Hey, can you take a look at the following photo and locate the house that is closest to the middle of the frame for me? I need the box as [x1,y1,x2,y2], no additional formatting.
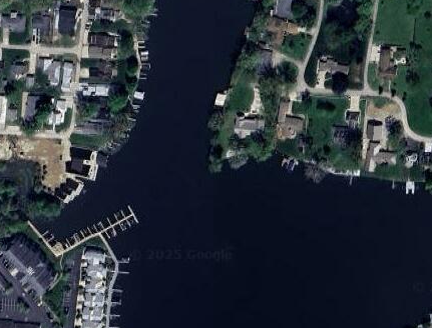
[235,118,264,139]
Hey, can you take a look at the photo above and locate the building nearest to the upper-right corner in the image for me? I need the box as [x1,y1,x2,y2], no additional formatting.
[376,45,400,74]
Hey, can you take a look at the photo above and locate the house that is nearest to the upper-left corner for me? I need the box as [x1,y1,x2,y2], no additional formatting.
[0,12,25,34]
